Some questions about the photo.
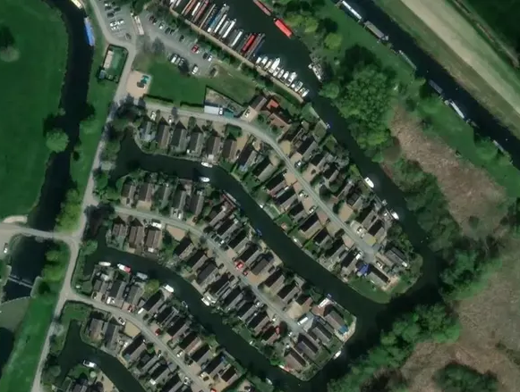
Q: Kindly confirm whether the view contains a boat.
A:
Yes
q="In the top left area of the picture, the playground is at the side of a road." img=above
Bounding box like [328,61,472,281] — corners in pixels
[125,69,150,97]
